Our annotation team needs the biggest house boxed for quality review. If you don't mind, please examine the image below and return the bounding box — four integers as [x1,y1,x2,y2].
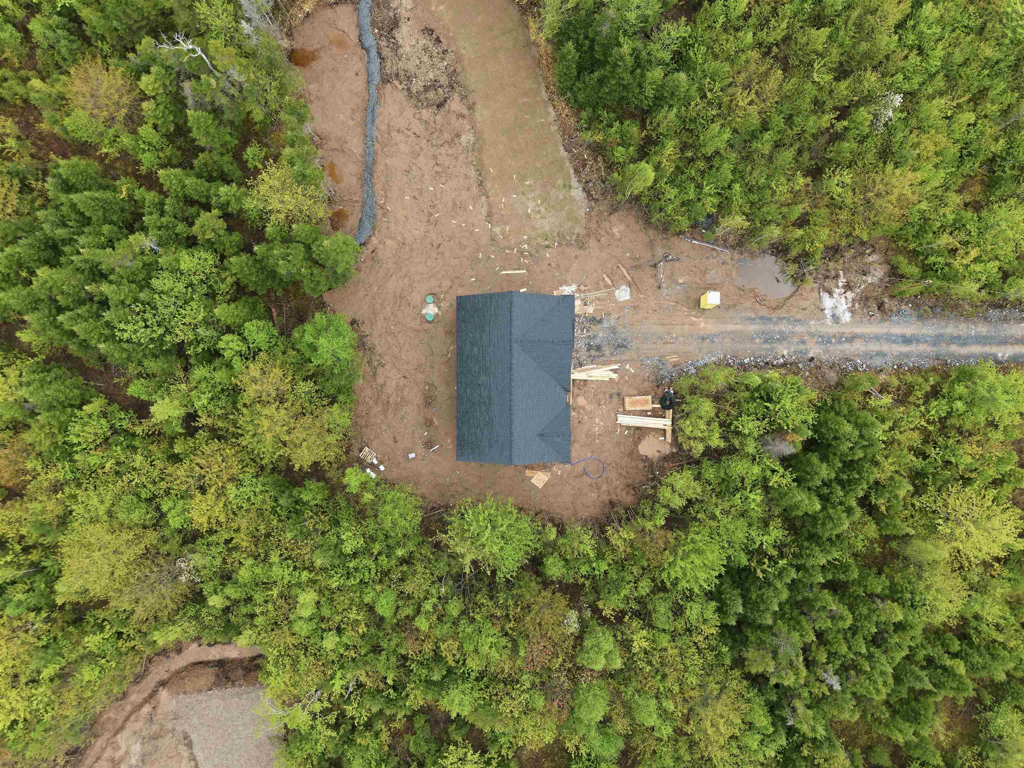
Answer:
[456,290,575,465]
